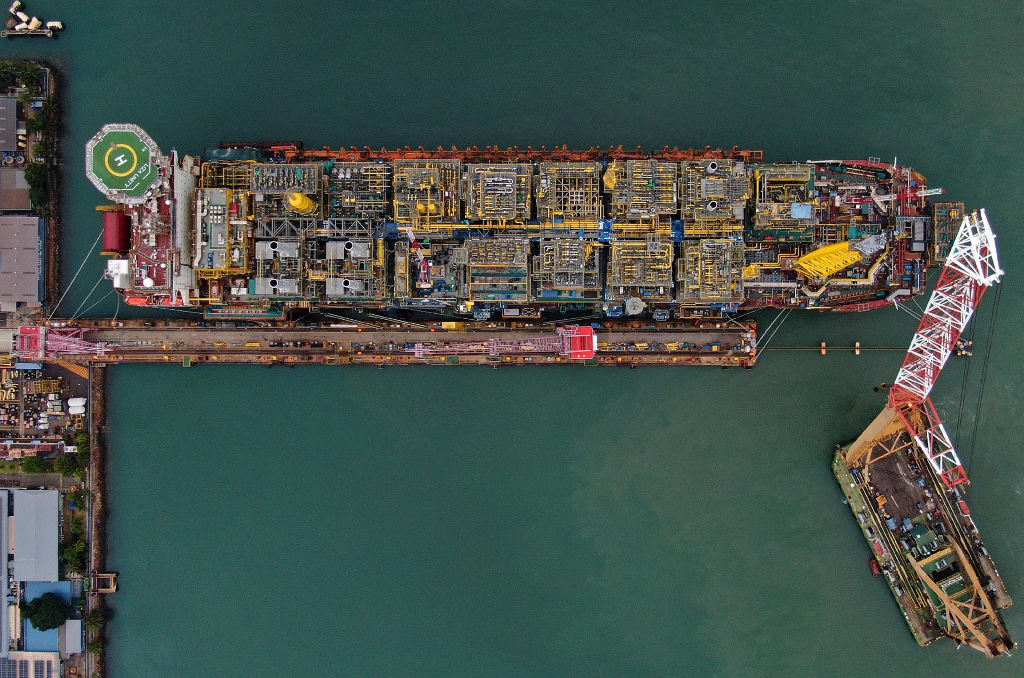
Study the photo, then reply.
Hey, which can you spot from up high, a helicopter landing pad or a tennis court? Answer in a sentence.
Looking from above, you can make out a helicopter landing pad.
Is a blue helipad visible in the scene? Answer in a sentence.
No, there's no blue helipad here.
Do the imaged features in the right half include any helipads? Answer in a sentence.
No, there's no helipad to be seen in the right half.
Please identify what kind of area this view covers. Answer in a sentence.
This looks like a port.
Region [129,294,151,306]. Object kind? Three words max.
boat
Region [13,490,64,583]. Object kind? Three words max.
building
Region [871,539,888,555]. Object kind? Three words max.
boat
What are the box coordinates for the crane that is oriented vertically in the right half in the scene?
[844,210,1020,660]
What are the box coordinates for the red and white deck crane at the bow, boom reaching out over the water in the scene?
[839,188,946,206]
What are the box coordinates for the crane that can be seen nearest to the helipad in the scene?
[16,323,111,359]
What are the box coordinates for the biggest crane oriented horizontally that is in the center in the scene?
[402,323,599,358]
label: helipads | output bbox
[85,123,163,203]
